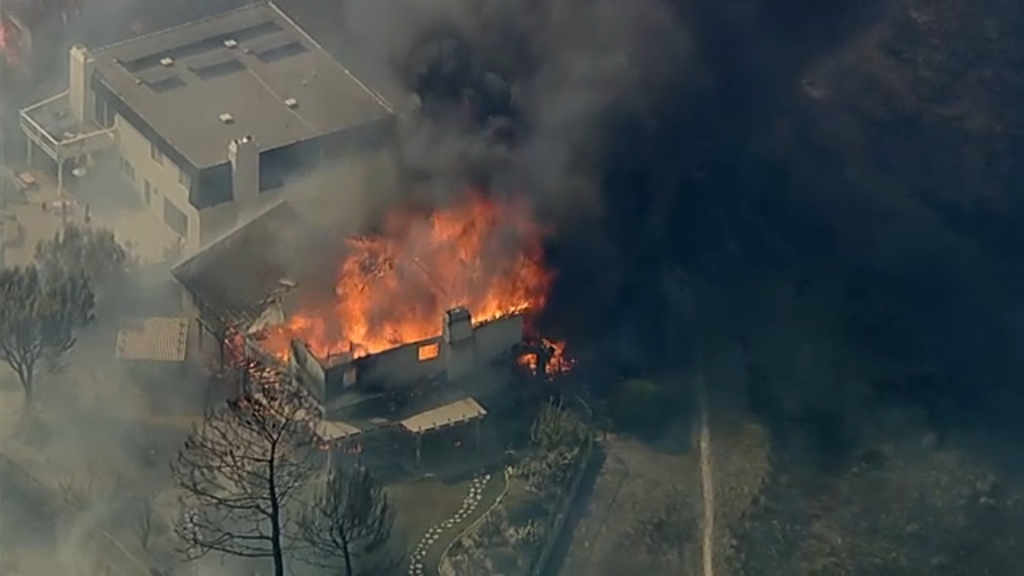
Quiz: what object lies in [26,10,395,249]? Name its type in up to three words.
house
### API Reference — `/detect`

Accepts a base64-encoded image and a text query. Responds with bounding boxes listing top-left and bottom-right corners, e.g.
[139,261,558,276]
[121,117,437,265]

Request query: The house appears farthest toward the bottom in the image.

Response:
[167,198,530,408]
